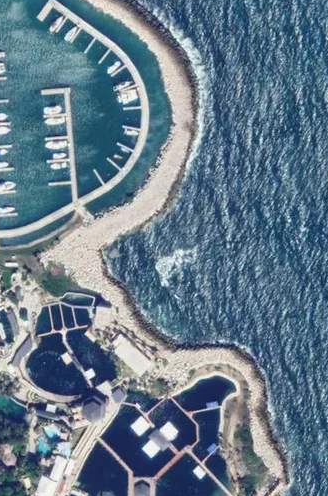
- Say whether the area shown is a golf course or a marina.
marina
